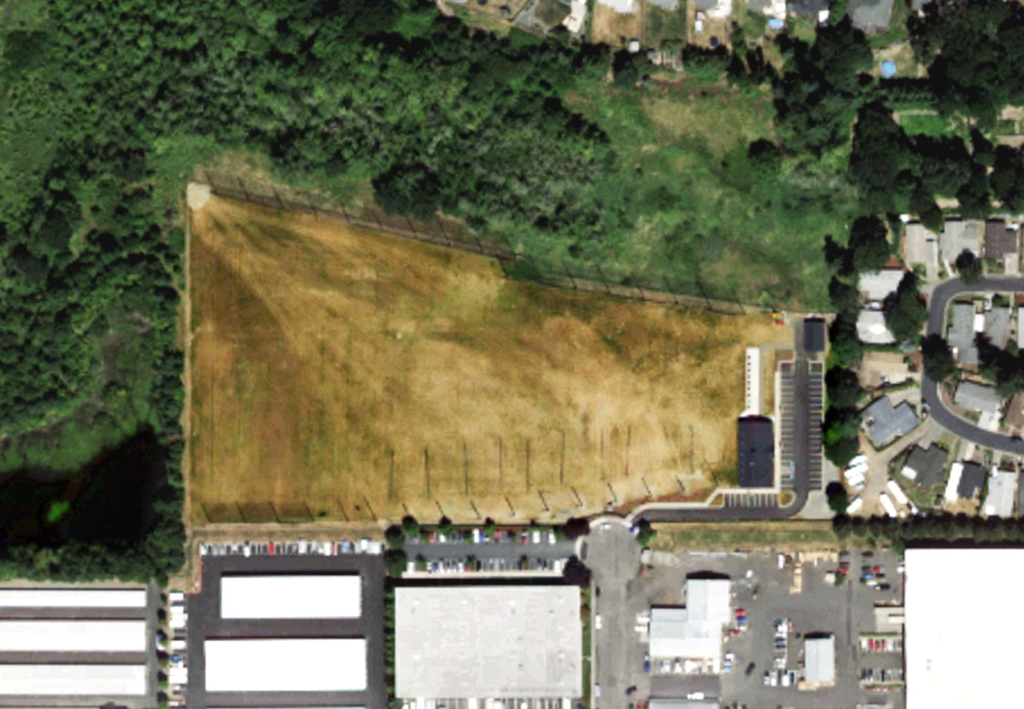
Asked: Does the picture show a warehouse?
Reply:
Yes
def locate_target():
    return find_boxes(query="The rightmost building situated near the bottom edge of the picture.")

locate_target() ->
[905,549,1024,709]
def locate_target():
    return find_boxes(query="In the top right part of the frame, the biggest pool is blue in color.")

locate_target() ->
[881,60,895,74]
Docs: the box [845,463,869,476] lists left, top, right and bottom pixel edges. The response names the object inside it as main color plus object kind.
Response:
white vehicle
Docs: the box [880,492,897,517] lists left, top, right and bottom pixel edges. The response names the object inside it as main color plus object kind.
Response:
white camper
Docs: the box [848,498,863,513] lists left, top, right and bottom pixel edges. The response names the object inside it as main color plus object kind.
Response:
white camper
